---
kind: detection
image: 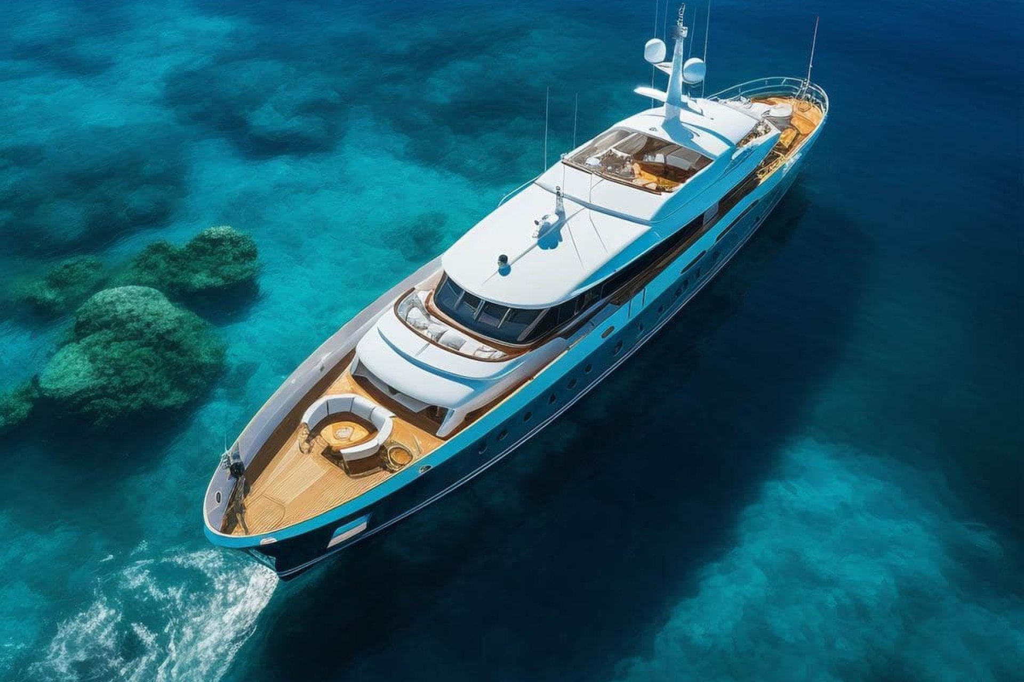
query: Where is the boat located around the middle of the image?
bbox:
[201,0,837,579]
